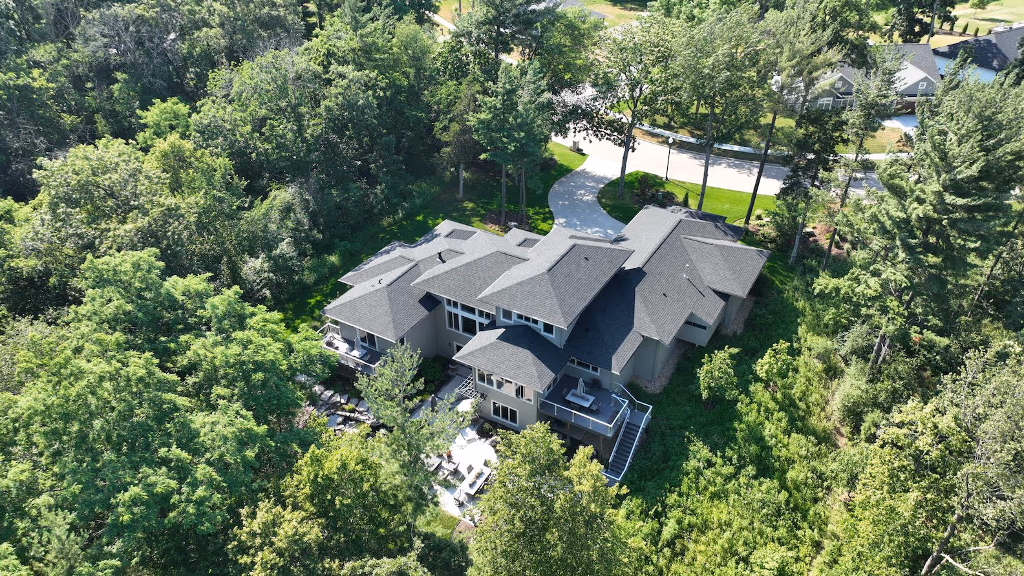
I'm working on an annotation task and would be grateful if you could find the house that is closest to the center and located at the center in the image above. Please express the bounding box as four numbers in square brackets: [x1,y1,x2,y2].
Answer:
[322,204,772,449]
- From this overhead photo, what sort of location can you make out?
residential area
